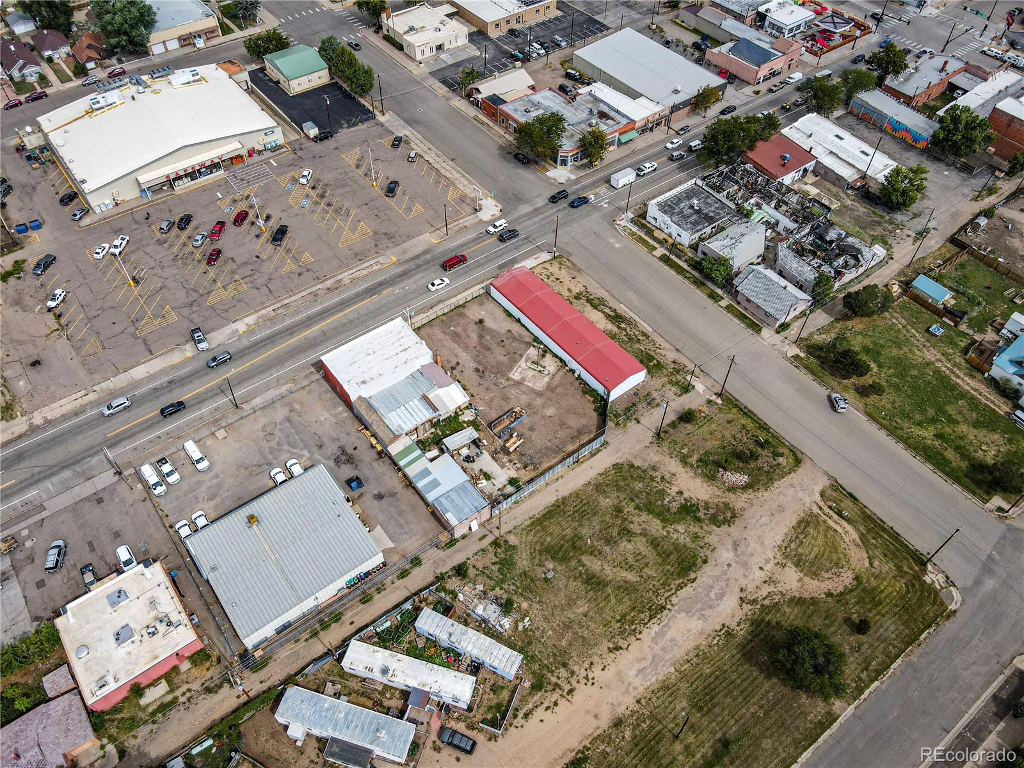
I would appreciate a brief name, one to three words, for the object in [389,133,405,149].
vehicle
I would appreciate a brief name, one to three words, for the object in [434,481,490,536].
shed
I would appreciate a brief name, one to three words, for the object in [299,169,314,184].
car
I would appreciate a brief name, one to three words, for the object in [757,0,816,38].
building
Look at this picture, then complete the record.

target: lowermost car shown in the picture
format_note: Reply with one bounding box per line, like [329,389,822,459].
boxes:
[438,726,478,755]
